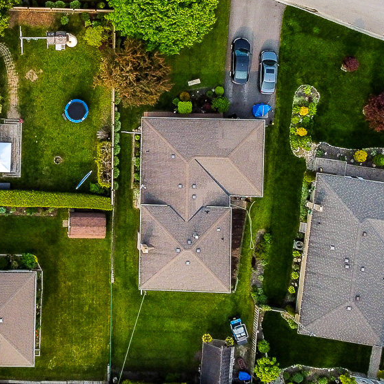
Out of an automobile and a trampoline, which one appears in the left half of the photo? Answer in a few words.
trampoline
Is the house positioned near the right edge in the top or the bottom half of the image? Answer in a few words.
bottom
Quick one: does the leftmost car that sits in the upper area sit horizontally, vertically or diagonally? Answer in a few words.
vertically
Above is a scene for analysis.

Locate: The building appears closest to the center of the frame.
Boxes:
[120,116,266,294]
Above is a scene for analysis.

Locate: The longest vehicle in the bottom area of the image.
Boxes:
[228,314,248,347]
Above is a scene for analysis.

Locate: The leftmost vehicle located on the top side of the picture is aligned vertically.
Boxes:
[228,37,251,85]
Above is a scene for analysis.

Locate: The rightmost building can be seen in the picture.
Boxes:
[290,173,384,348]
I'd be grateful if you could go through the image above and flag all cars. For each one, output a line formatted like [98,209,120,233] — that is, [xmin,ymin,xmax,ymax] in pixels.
[256,50,278,94]
[228,37,251,85]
